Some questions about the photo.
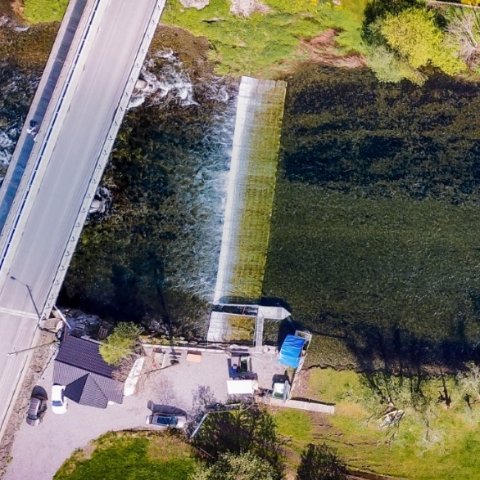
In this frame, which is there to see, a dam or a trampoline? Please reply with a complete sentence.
The image shows a dam.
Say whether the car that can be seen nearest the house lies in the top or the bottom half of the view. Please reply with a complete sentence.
The bottom half of the photo is where the car that can be seen nearest the house is.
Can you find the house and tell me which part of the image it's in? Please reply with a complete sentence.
The house sits in the bottom left section of the image.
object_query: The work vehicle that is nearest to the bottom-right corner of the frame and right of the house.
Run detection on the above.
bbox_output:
[269,380,288,405]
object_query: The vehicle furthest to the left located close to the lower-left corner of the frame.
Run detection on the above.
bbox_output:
[21,398,44,430]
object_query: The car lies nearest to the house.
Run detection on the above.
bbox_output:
[45,384,66,418]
